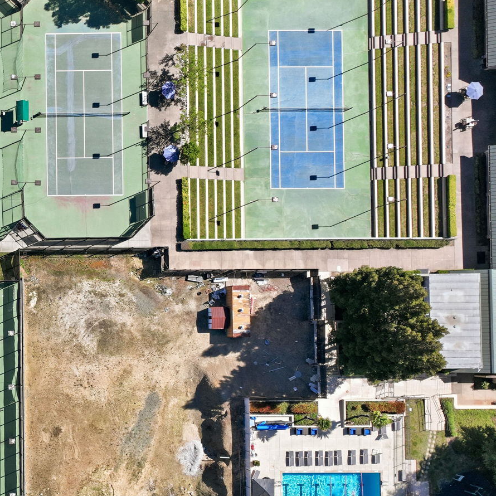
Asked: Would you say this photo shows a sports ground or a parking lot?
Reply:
sports ground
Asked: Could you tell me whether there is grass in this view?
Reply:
Yes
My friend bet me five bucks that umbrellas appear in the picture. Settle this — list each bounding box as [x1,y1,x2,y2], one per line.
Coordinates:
[162,145,178,162]
[159,81,177,99]
[460,81,483,99]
